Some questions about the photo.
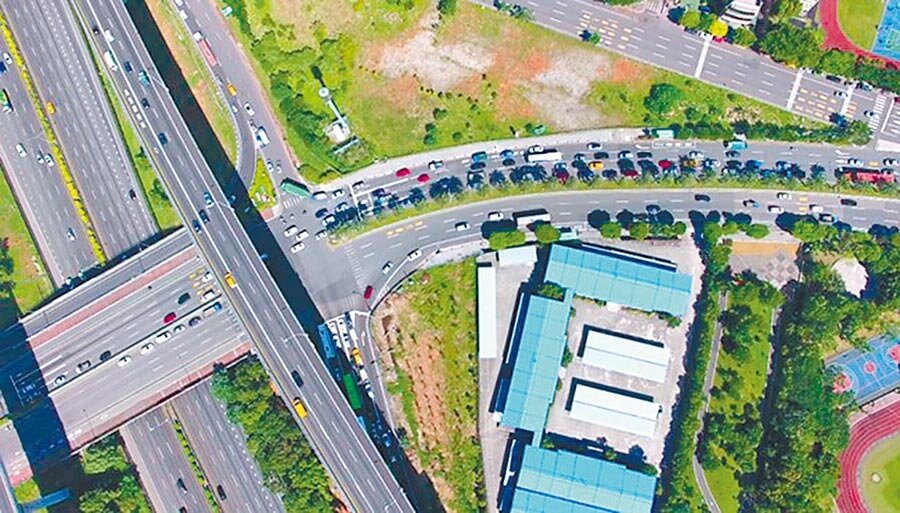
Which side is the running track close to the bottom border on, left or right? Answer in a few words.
right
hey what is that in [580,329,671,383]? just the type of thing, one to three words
shed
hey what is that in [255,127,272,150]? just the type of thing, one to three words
vehicle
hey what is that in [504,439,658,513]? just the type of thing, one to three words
building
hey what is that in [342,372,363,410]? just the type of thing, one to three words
bus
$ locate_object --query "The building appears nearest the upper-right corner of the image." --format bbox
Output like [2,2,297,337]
[713,0,765,33]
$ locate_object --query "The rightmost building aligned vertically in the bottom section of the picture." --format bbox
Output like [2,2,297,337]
[493,295,571,430]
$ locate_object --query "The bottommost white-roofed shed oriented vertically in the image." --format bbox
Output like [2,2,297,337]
[478,266,497,358]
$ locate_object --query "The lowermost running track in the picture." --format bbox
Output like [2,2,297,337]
[835,390,900,513]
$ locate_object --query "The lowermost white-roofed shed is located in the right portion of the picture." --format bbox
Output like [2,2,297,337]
[570,382,662,437]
